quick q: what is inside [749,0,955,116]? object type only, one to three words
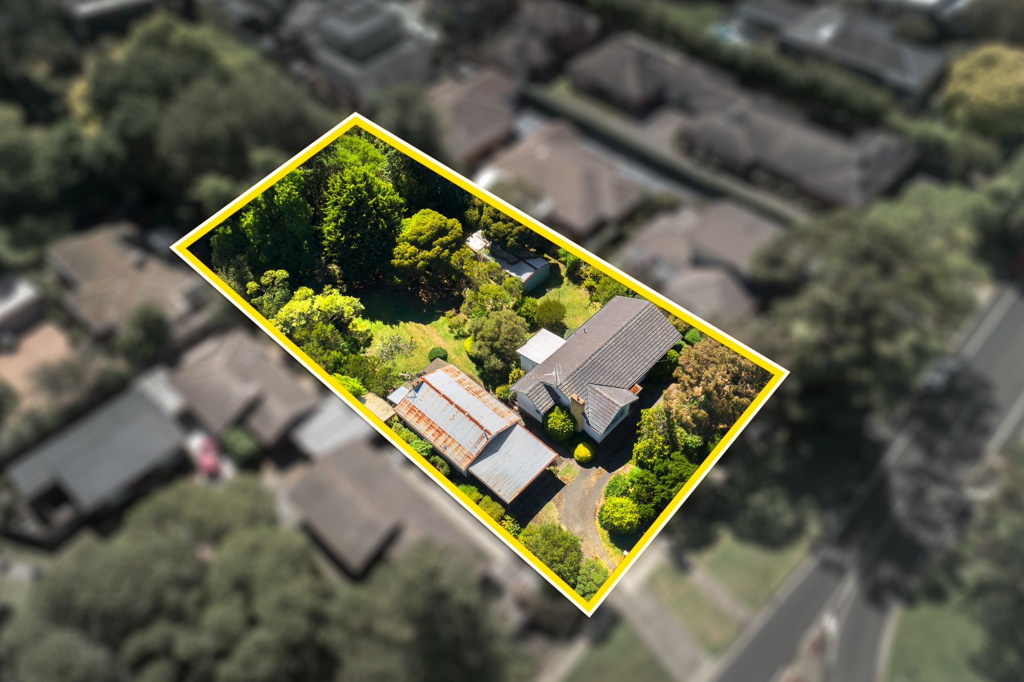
house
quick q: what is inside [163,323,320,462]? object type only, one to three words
house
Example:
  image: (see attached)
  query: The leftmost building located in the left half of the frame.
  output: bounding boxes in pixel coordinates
[0,252,48,338]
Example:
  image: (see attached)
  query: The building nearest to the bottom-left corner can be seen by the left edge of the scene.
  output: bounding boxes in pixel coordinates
[4,379,193,547]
